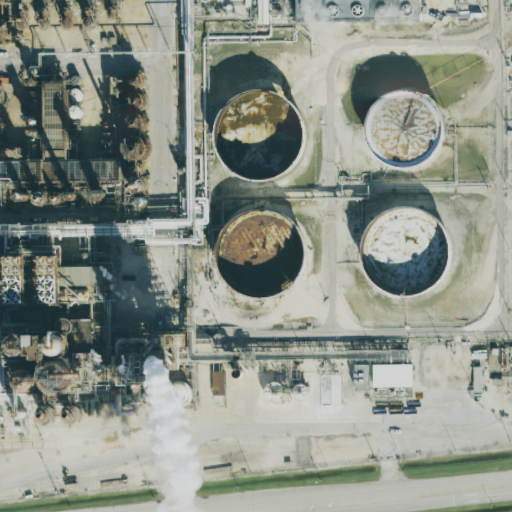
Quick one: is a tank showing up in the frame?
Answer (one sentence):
Yes, you can see a tank in this photo.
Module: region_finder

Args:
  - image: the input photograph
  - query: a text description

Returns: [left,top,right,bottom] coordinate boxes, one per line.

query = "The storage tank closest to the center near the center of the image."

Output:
[216,208,313,303]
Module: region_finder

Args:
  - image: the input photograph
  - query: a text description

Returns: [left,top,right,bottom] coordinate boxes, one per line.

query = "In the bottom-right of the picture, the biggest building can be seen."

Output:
[372,364,414,388]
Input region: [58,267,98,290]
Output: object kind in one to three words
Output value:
building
